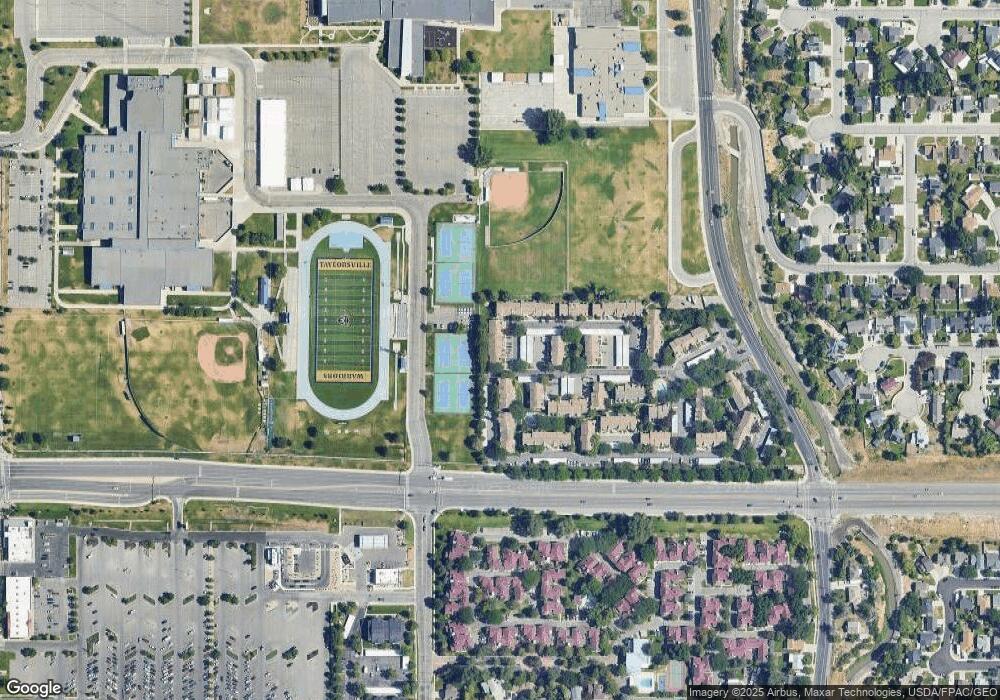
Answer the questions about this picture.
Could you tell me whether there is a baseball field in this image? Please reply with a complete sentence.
Yes, looking at the shot, I can spot a baseball field.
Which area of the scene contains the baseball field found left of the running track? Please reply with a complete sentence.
Look in the left portion of the view to spot the baseball field found left of the running track.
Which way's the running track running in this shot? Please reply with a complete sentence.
I'd say the running track is aligned from top to bottom in the picture.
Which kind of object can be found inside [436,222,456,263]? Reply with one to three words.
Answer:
tennis court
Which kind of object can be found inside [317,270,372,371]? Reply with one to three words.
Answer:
sports field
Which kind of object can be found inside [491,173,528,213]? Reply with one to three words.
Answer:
baseball field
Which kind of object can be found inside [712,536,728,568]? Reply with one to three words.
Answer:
house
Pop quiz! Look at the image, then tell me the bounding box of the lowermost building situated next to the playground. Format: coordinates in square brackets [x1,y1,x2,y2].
[388,19,424,77]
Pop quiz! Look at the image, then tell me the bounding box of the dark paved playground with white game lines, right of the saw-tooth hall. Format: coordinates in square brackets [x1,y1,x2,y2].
[424,26,456,47]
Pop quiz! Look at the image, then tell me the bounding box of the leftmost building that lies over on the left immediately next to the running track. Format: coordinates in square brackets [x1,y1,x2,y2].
[83,75,213,306]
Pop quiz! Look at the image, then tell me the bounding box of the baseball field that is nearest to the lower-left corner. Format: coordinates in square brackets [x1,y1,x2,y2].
[198,333,248,382]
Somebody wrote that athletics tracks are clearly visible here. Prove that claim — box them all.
[296,222,393,420]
